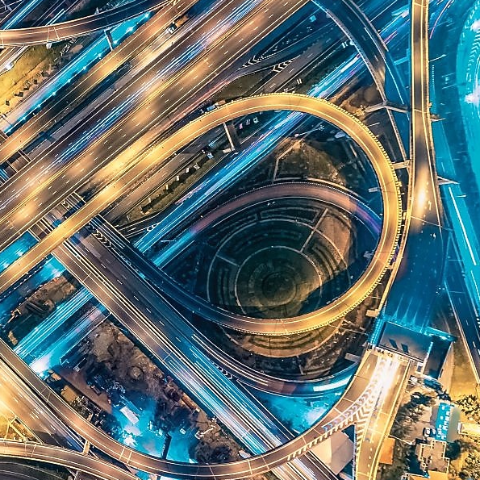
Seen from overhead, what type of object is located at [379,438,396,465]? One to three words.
shed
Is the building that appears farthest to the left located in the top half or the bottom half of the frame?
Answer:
bottom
